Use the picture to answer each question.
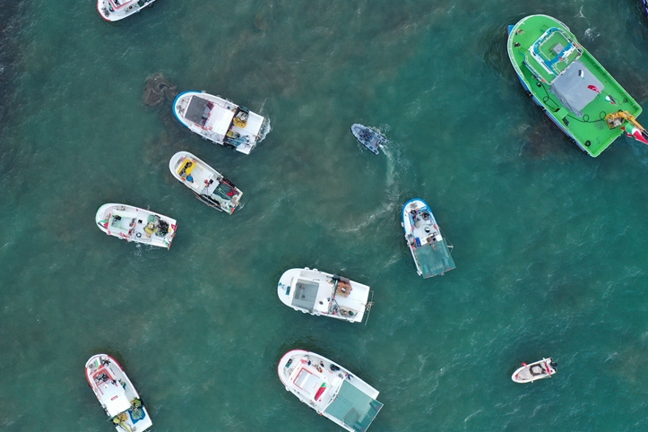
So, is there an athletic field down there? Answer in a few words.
No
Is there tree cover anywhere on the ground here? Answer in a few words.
No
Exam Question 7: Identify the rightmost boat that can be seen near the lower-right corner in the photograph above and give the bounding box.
[511,357,557,383]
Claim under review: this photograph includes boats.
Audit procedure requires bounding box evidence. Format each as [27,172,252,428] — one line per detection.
[169,151,244,213]
[85,353,152,432]
[277,349,383,432]
[97,0,150,22]
[350,122,385,153]
[172,89,264,155]
[511,357,557,383]
[96,203,176,247]
[277,268,374,324]
[400,198,456,279]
